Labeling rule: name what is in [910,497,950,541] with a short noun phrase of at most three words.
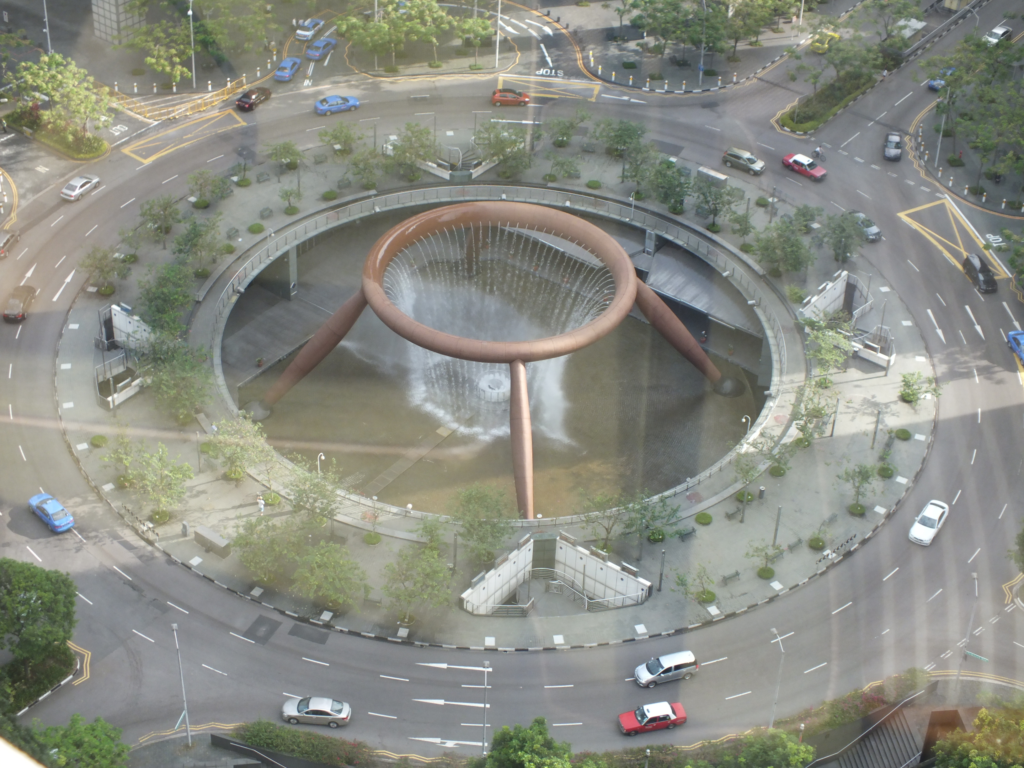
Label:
car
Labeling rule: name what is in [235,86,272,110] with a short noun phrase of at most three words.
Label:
car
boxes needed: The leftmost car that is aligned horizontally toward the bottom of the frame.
[280,693,352,728]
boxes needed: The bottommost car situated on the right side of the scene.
[613,699,684,737]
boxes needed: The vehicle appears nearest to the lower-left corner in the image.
[26,492,76,532]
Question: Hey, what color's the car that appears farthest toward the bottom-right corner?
white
